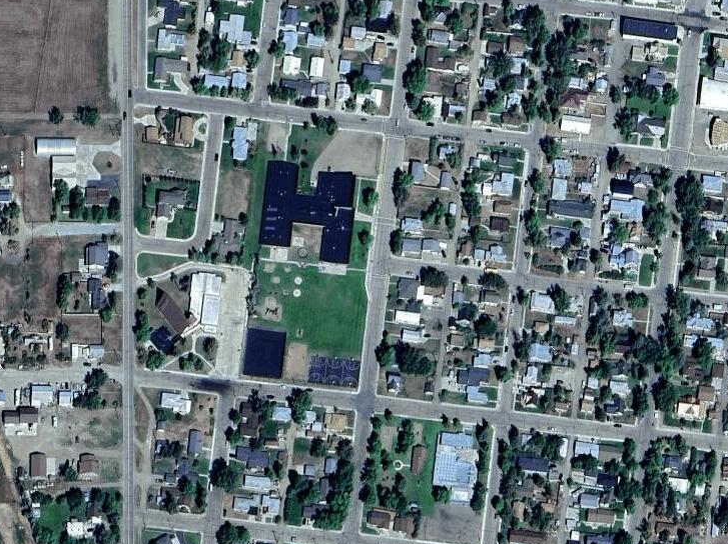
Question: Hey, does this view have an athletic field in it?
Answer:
Yes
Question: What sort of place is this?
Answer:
residential area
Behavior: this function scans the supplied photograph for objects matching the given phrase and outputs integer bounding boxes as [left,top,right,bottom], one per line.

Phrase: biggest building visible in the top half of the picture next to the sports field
[259,161,356,267]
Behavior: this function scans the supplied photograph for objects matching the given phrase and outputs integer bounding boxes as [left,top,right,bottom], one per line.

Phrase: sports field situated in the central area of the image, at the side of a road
[248,262,370,356]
